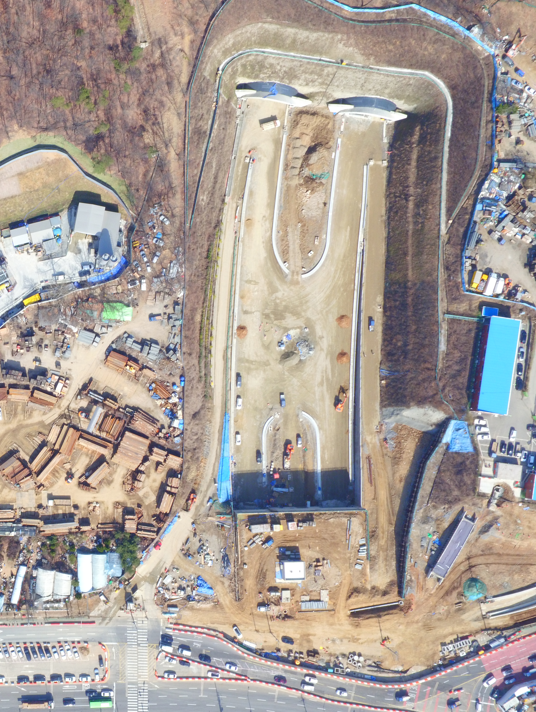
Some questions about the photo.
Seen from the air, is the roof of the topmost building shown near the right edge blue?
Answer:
Yes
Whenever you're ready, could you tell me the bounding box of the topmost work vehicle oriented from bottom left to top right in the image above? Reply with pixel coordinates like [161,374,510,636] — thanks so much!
[506,41,524,57]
